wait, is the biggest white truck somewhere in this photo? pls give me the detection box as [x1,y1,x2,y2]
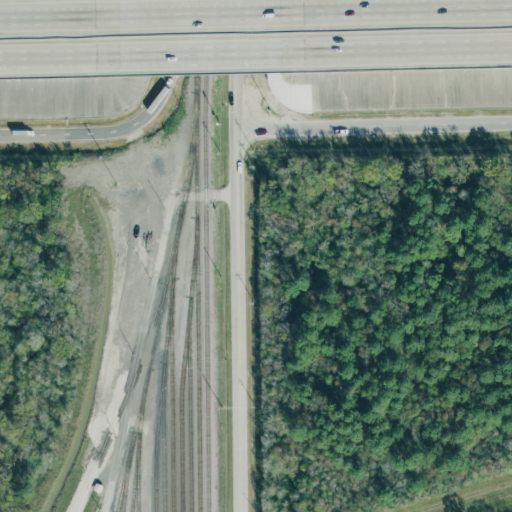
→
[146,78,176,114]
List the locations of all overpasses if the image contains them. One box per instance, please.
[96,0,306,76]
